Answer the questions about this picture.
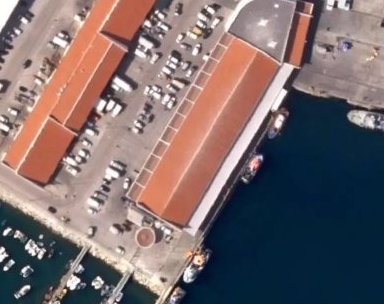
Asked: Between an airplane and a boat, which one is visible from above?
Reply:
boat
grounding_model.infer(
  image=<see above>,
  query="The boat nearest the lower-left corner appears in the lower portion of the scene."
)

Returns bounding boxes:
[14,285,30,300]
